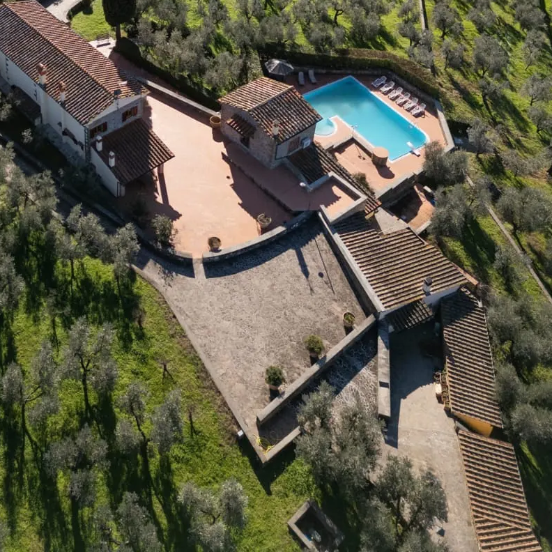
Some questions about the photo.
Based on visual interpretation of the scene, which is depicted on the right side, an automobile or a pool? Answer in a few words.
pool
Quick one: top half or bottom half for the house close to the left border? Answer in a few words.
top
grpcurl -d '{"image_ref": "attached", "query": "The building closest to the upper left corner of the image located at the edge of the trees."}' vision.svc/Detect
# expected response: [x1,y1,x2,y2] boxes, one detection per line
[0,0,175,203]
